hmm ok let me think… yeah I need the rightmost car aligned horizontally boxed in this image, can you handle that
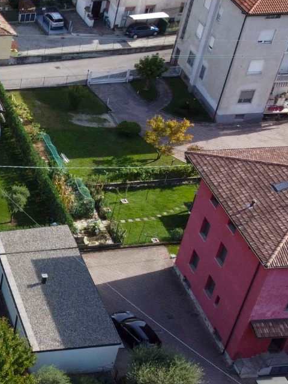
[127,24,159,38]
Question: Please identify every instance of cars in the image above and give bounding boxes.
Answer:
[109,311,170,357]
[127,24,159,38]
[45,15,62,29]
